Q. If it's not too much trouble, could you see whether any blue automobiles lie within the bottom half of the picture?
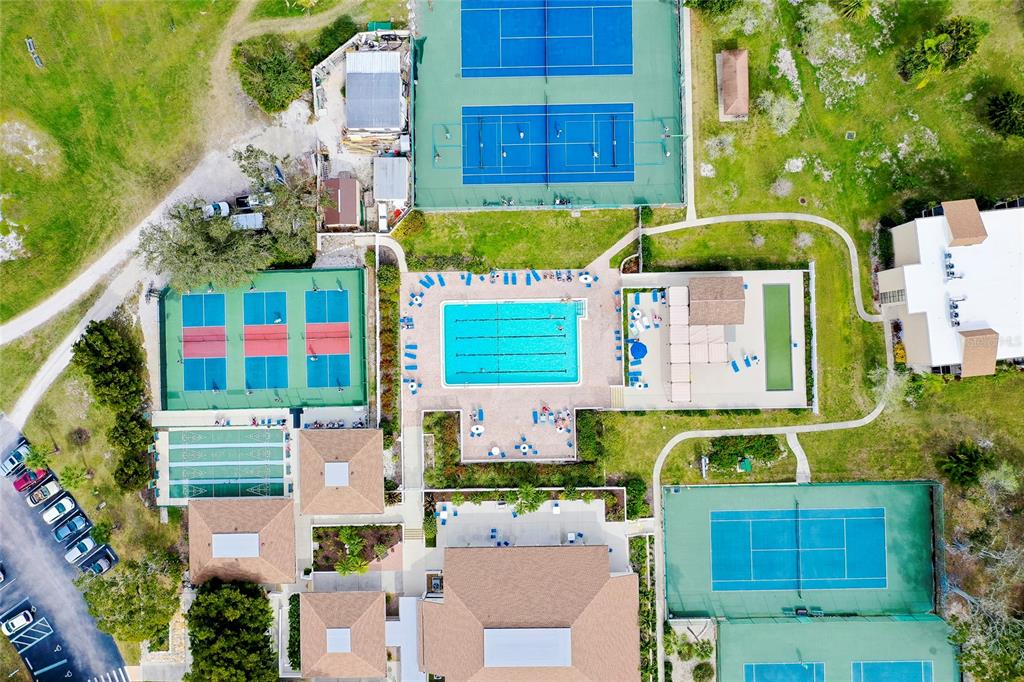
Yes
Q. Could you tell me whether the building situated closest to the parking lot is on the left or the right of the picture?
left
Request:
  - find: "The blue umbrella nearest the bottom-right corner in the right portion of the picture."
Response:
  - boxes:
[634,342,650,359]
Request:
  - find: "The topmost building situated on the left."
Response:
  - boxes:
[346,52,403,136]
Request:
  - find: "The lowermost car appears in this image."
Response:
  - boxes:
[0,609,32,638]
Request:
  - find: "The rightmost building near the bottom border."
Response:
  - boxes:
[420,540,639,682]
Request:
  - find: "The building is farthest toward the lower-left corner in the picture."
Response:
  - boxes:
[188,499,296,585]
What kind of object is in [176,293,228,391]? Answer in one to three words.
sports court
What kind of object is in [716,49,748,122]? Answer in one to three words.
shed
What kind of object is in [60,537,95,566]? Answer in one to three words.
car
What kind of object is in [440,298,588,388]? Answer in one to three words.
swimming pool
